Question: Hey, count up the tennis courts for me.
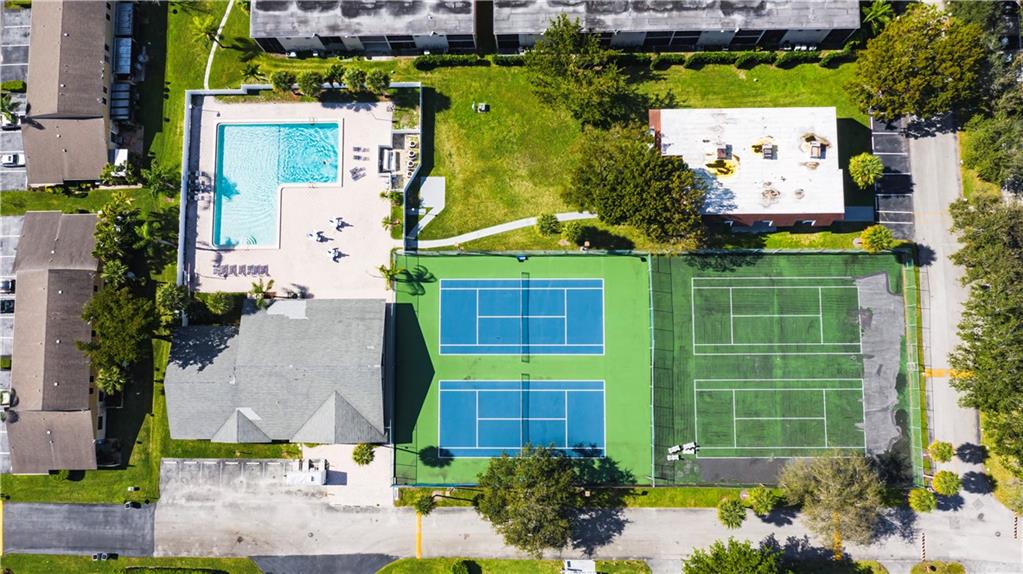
4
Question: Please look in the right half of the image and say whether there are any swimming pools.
No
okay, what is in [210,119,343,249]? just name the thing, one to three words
swimming pool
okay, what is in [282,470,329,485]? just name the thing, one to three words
trailer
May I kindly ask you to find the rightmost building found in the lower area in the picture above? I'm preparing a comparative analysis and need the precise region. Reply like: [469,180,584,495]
[164,299,387,443]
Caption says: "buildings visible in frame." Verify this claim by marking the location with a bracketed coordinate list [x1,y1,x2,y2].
[495,0,860,51]
[6,211,112,473]
[251,0,477,54]
[164,299,387,443]
[648,108,845,230]
[21,0,126,186]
